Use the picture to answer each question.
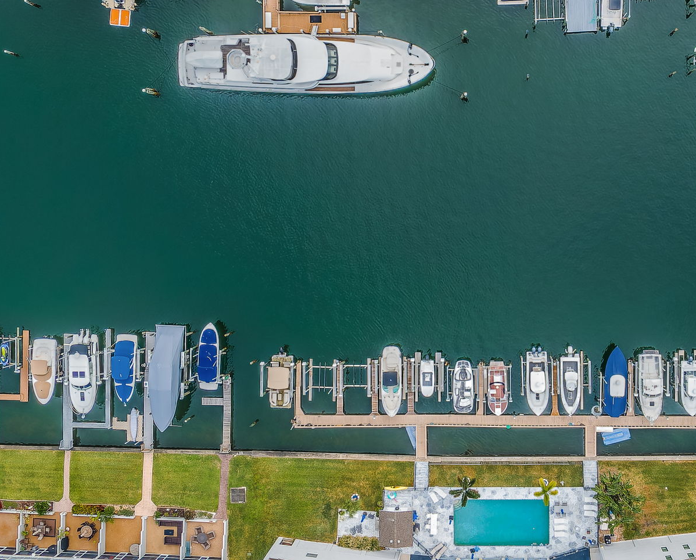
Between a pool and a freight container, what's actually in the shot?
pool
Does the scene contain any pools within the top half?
No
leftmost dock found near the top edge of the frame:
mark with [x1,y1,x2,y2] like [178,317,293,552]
[261,0,357,34]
